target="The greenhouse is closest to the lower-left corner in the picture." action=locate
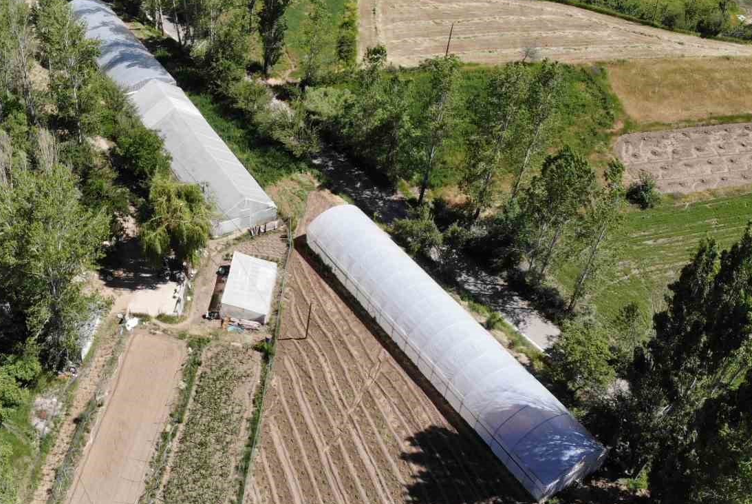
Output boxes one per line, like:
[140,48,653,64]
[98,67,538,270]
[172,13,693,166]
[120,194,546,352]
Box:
[218,253,280,324]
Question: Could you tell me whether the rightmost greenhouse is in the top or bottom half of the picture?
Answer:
bottom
